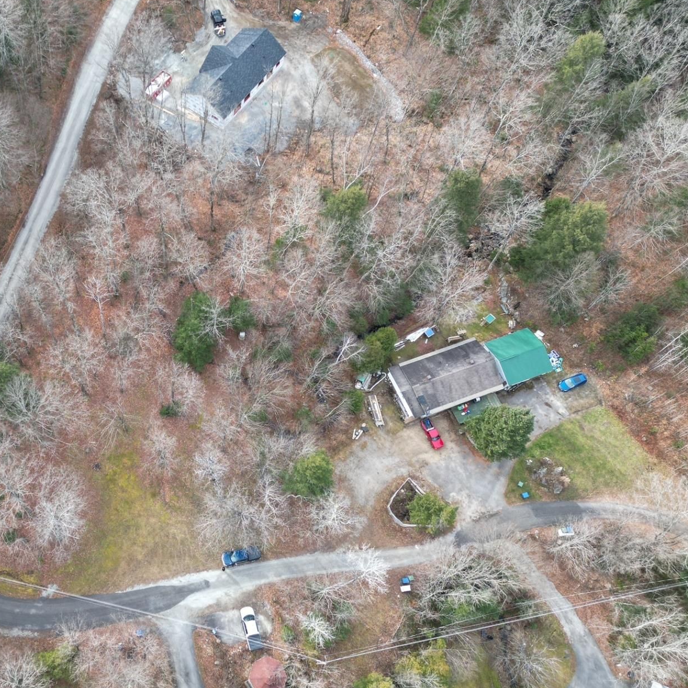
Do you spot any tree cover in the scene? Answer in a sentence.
Yes, some tree cover is visible.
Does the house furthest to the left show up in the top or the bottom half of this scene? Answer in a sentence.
The top half of the photo is where the house furthest to the left is.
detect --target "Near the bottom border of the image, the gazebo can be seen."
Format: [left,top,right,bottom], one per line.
[249,657,288,688]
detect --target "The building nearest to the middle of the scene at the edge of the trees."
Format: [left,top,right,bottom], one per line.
[386,338,507,422]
